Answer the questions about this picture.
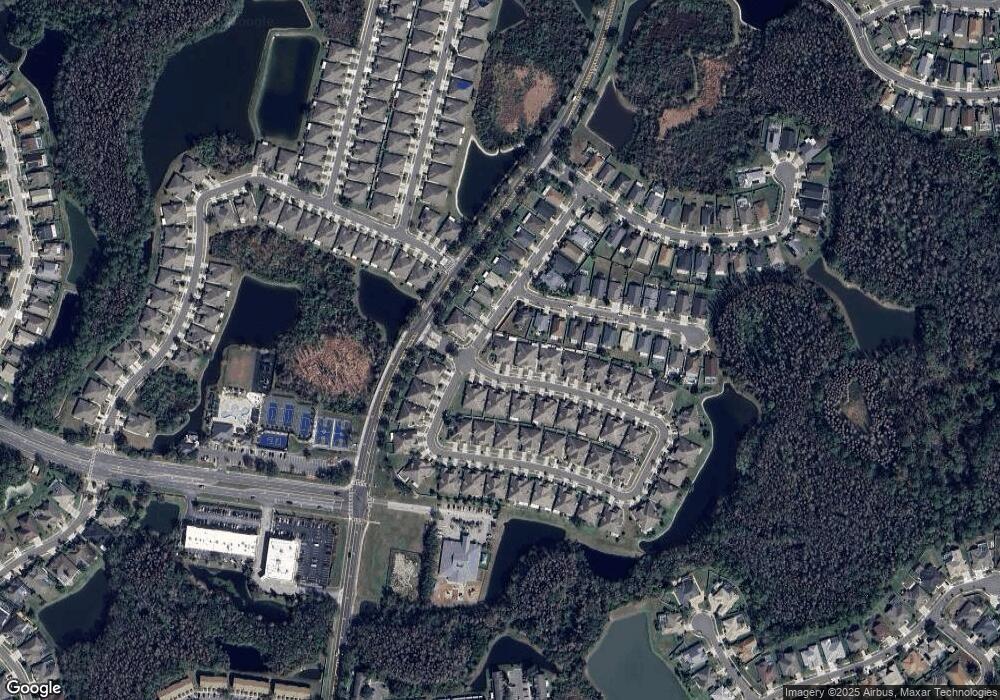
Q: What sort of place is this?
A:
residential area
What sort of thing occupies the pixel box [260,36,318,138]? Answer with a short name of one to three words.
pond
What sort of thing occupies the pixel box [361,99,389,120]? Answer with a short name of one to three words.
house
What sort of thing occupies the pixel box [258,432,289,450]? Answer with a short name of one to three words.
sports court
